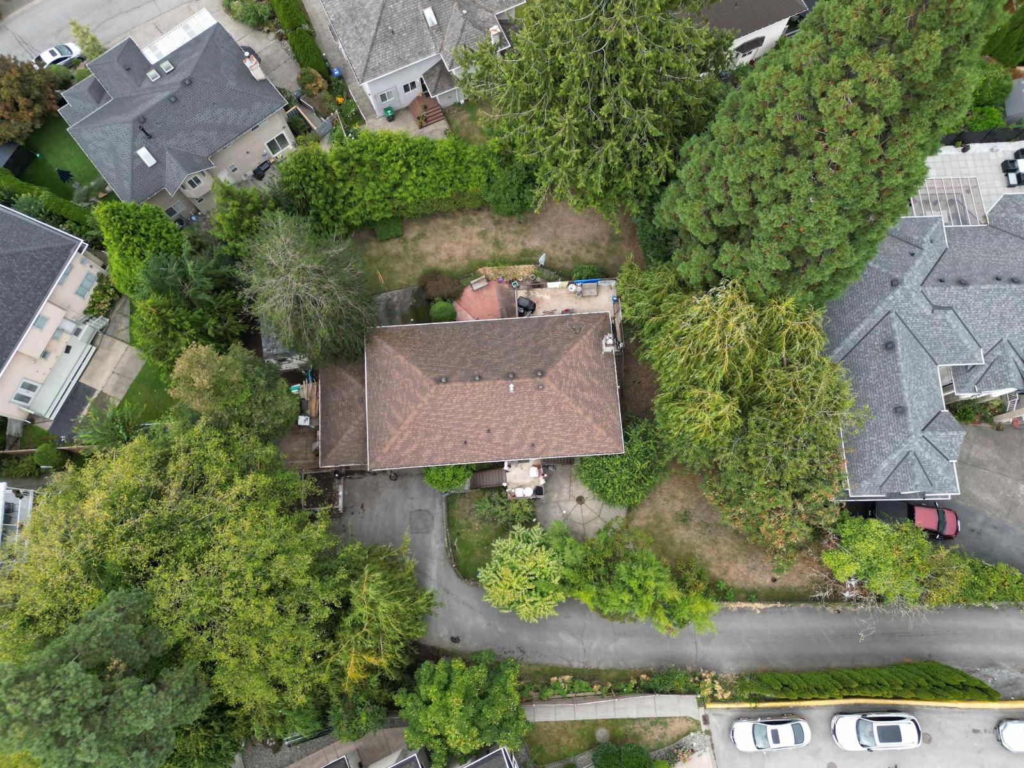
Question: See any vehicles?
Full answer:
Yes, there's a vehicle here.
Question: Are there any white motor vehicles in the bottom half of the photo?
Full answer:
Yes, a white motor vehicle shows up in the bottom half of the photo.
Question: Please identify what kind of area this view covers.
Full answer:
It's a residential area.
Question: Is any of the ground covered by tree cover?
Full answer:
Yes, tree cover can be seen from above here.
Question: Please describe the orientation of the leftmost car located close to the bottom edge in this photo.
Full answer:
In this picture, the leftmost car located close to the bottom edge lies from side to side.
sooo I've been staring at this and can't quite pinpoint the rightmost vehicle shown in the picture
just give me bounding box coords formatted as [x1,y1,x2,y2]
[988,713,1024,753]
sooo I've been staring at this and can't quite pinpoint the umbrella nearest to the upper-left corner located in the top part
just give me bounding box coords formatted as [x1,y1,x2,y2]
[57,165,79,188]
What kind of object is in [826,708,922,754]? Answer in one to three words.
car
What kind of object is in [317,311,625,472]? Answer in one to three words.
house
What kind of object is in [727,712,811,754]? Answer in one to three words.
car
